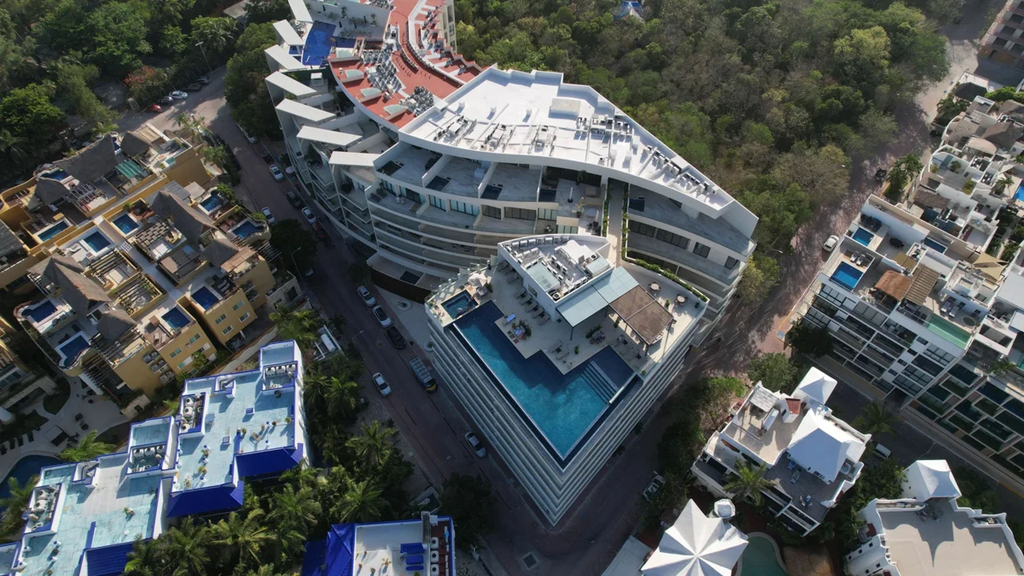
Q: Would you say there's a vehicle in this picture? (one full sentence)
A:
Yes, the photo shows a vehicle.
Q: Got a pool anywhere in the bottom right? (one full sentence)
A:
Yes, there is a pool in the bottom right.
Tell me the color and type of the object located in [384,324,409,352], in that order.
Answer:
black car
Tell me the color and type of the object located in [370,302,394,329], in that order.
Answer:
black car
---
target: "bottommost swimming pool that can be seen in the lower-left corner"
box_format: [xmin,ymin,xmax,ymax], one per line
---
[0,448,68,525]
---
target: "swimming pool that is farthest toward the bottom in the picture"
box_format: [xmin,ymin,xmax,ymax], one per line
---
[733,526,789,576]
